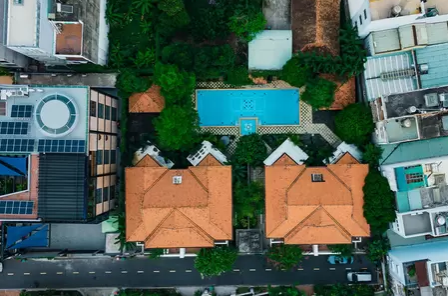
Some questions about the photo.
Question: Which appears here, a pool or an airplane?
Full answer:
It is a pool that can be seen here.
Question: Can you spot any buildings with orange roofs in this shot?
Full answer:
Yes, a building with an orange roof appears in the view.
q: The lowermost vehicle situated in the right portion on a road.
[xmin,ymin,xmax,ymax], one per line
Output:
[347,269,374,283]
